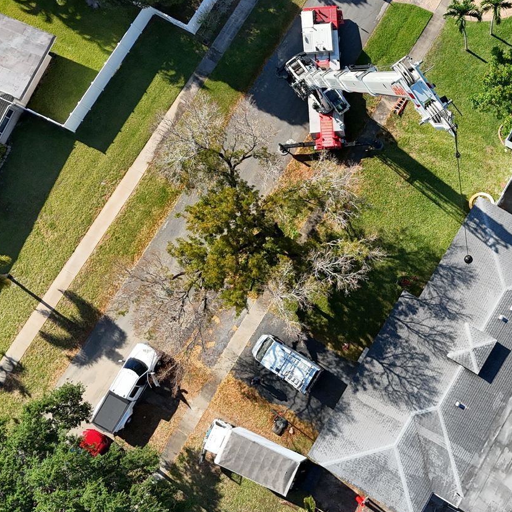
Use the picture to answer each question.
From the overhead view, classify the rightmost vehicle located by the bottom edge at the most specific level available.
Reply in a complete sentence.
It looks like the rightmost vehicle located by the bottom edge is a truck.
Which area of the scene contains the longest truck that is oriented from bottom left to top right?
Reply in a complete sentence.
You can find the longest truck that is oriented from bottom left to top right in the bottom left area of the picture.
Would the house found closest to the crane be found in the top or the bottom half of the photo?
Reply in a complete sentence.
The bottom half of the photo is where the house found closest to the crane is.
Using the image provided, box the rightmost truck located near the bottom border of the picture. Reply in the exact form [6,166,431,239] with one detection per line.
[197,414,308,497]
